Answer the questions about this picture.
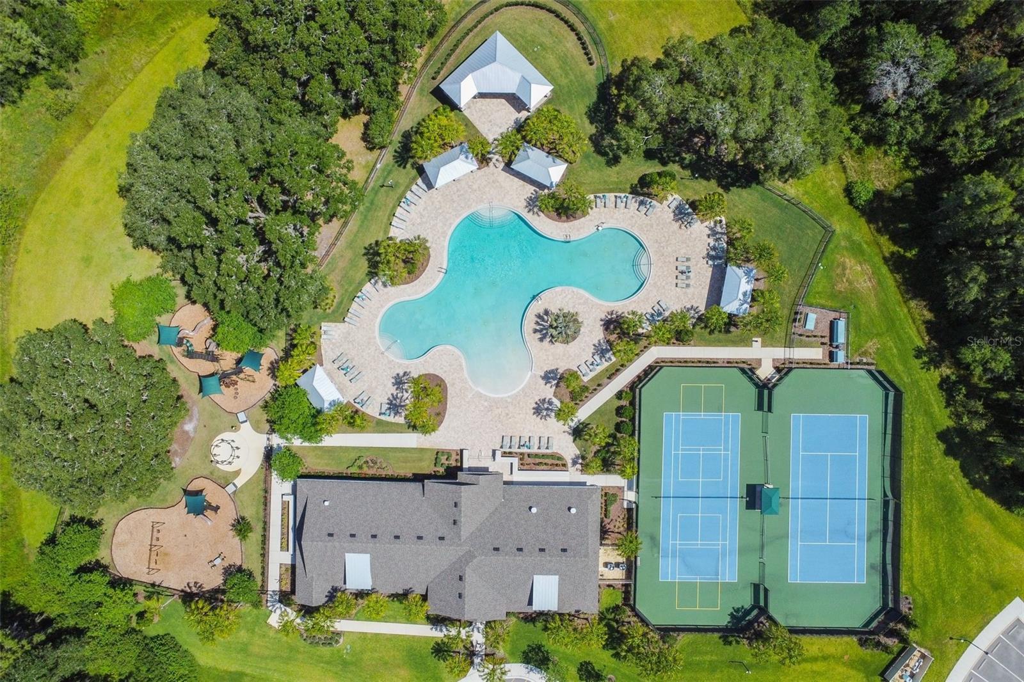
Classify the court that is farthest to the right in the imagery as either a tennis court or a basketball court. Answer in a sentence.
It turns out the court that is farthest to the right is a tennis court.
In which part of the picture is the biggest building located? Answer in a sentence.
The biggest building appears toward the bottom of the photo.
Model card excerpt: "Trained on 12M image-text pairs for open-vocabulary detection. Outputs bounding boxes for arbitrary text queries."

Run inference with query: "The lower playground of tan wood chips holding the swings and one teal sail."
[110,476,243,592]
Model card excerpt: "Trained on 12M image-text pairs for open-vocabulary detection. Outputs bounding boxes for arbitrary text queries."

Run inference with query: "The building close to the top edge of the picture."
[439,30,554,112]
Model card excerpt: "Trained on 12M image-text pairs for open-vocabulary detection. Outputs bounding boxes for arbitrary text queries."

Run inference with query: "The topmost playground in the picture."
[168,302,279,414]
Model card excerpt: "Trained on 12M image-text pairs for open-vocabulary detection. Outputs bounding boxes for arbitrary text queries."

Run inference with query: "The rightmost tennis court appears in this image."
[764,368,893,628]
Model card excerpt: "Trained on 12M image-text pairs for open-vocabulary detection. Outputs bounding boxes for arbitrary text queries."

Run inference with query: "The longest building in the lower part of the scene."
[295,469,604,623]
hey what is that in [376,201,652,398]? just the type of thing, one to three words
swimming pool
